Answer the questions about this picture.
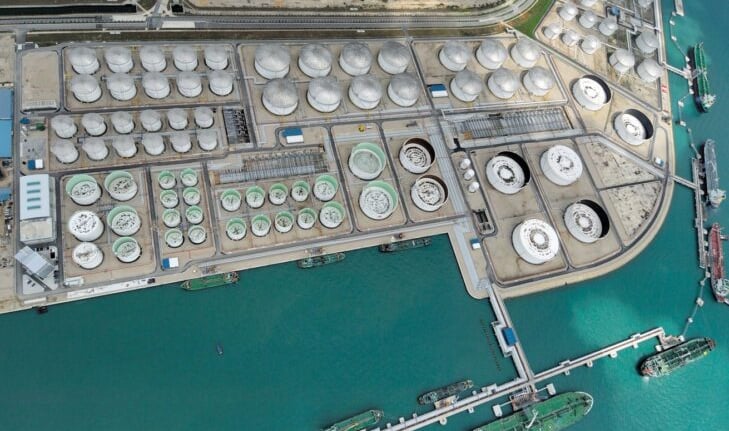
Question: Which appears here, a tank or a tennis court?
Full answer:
I can see a tank in this picture.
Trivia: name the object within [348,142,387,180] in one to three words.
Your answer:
storage tank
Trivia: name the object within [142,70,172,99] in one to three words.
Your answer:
storage tank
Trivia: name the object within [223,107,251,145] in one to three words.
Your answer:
building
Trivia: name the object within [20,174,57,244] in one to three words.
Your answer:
building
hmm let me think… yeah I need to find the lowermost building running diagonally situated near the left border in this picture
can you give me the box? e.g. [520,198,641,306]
[16,246,58,280]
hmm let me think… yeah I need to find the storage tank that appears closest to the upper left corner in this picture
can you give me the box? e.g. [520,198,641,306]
[69,45,103,75]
